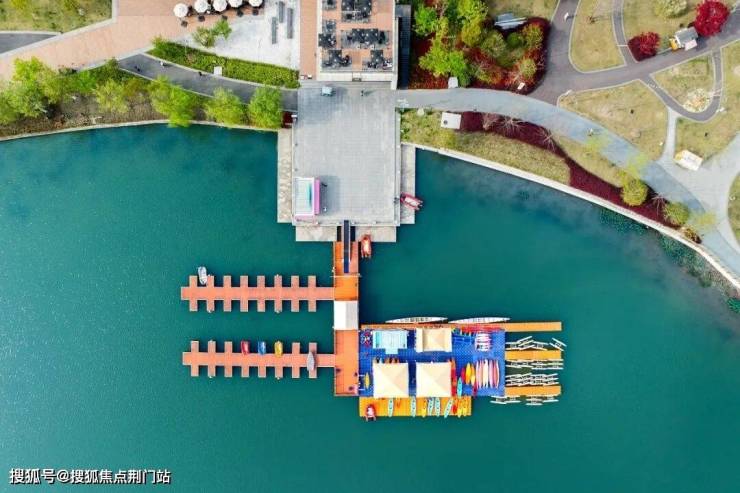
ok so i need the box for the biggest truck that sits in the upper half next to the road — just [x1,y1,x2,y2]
[663,28,699,51]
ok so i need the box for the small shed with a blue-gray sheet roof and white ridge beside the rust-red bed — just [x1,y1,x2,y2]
[494,12,525,33]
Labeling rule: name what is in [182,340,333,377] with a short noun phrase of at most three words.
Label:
pier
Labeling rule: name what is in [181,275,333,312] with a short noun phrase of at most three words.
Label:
pier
